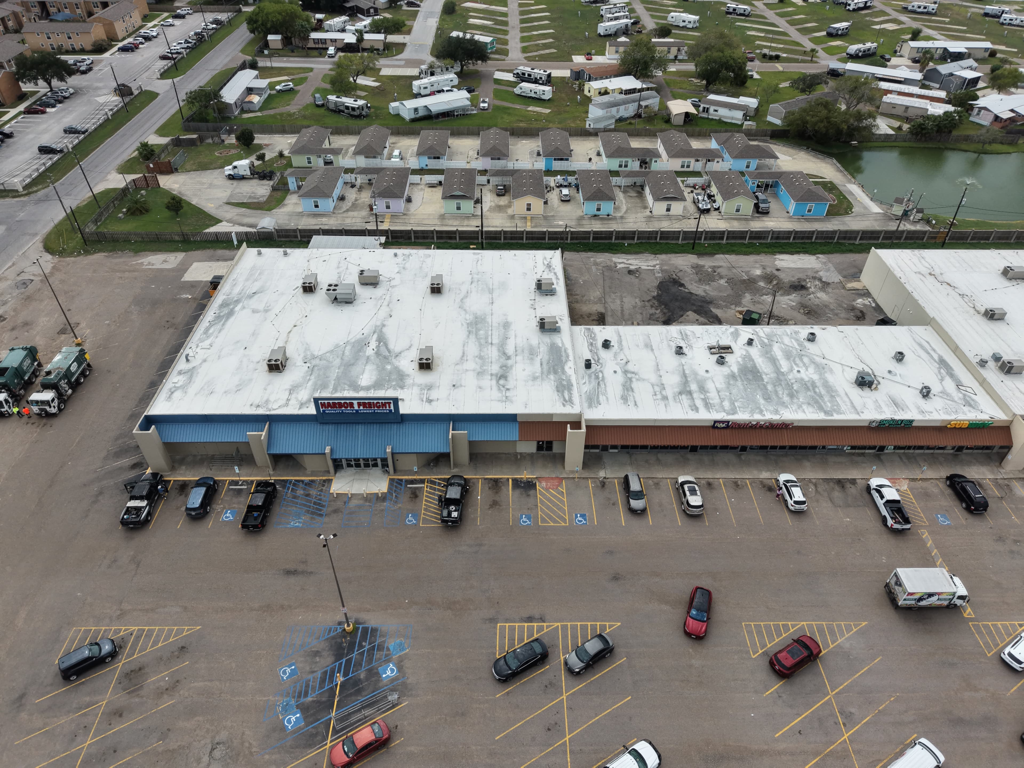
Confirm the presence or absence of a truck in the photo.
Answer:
Yes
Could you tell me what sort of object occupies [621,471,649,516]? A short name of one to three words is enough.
car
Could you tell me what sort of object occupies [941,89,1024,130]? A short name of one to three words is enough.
house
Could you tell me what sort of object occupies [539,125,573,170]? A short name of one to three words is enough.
house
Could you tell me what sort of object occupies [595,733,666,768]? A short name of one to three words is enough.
truck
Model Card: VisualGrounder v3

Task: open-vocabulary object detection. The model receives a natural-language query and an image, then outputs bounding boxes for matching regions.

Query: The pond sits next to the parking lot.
[839,147,1024,222]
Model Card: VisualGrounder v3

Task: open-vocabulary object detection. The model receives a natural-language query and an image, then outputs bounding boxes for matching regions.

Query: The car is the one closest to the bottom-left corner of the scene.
[51,637,125,688]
